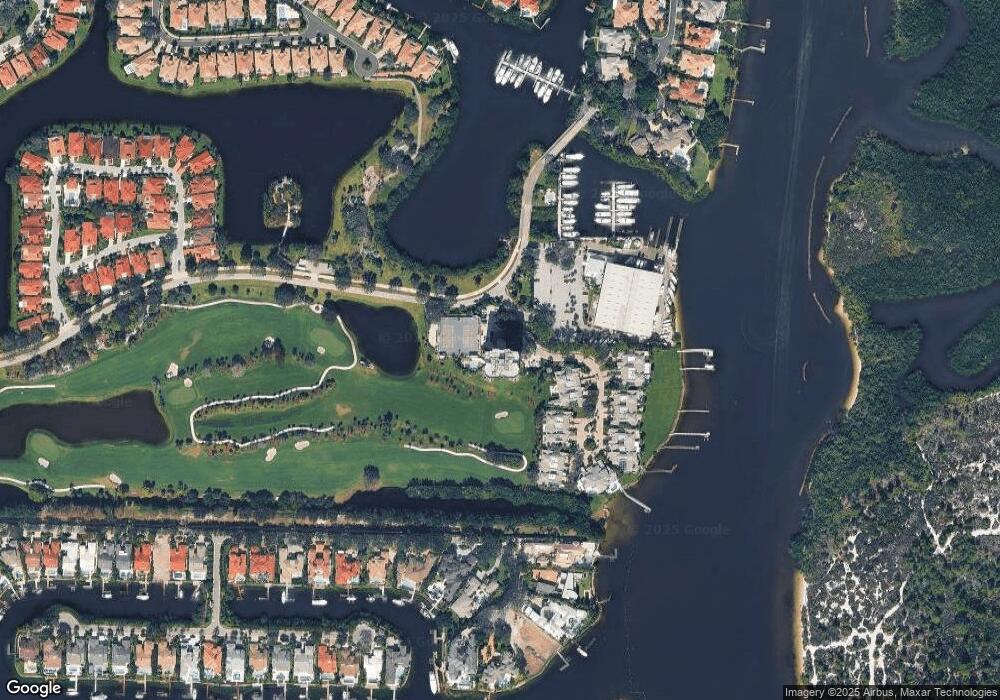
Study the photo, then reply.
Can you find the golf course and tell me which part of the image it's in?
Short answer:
left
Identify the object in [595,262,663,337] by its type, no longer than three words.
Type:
shed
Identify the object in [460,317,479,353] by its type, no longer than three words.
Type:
tennis court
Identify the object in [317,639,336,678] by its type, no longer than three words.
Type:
house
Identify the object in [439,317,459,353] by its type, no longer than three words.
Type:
tennis court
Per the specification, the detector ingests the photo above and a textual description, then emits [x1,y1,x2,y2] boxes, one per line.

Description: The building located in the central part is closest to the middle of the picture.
[484,349,520,377]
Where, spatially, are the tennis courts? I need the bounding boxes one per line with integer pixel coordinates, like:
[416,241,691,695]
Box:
[439,317,459,353]
[460,317,479,353]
